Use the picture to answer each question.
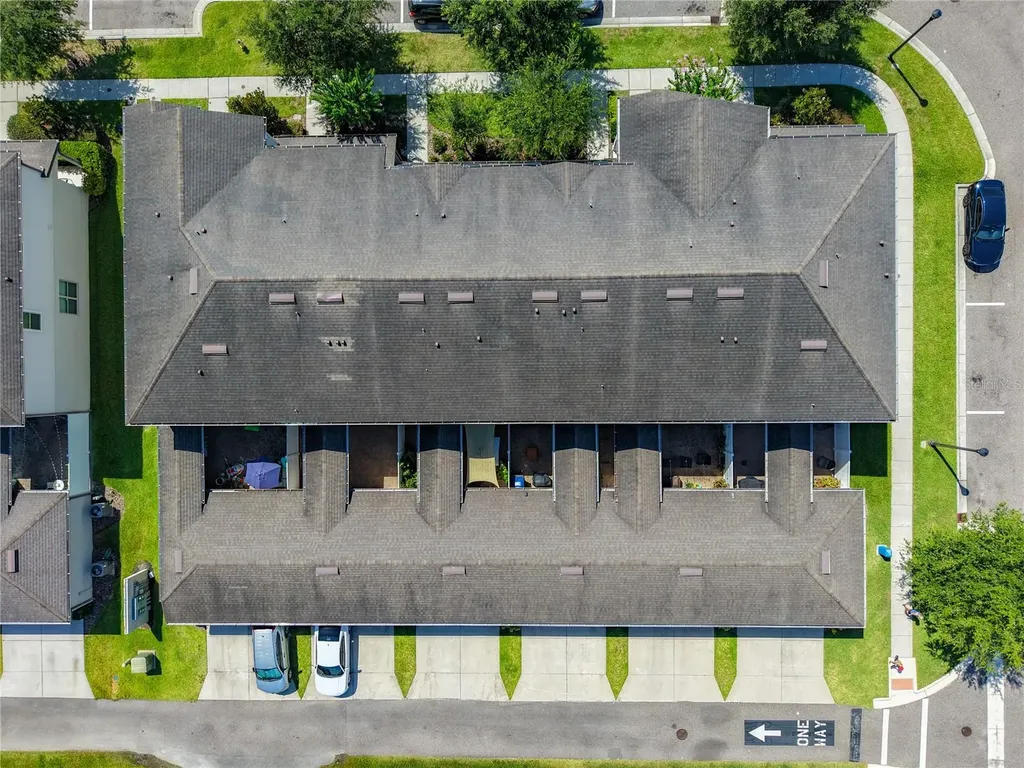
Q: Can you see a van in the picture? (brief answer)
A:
Yes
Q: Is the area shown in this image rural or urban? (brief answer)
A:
urban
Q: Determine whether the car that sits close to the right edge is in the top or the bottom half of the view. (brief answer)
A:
top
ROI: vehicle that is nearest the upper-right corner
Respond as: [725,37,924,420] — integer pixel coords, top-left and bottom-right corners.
[960,180,1009,271]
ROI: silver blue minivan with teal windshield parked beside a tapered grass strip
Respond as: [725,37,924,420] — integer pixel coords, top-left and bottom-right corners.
[249,624,292,696]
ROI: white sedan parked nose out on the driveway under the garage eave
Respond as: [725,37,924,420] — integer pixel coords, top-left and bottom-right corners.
[311,625,352,700]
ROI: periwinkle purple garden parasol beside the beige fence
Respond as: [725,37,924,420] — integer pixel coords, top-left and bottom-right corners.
[246,458,283,490]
